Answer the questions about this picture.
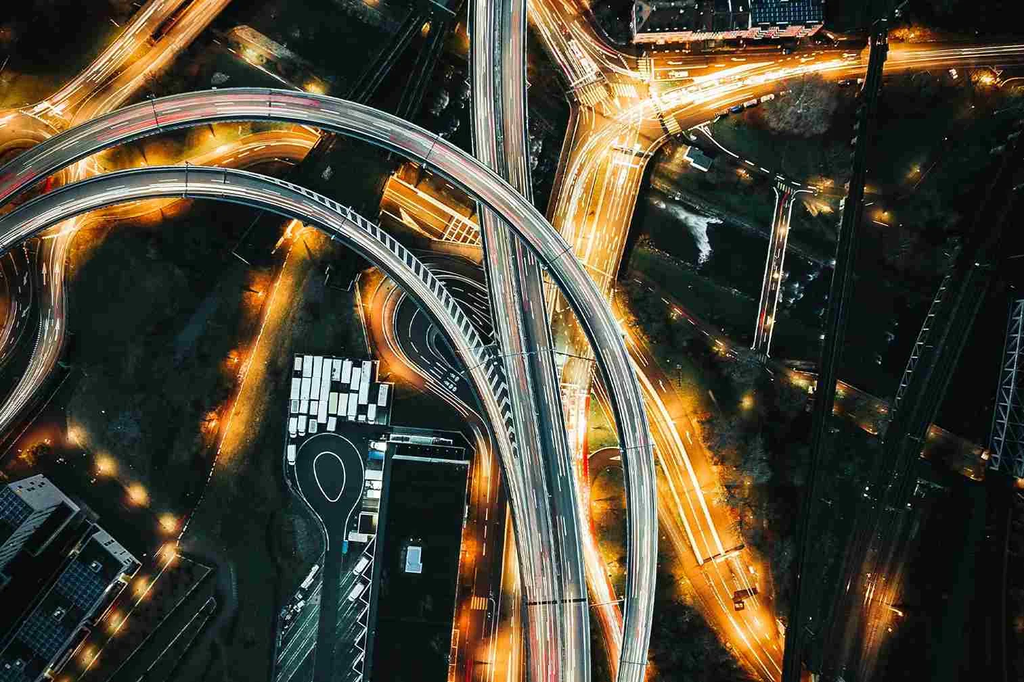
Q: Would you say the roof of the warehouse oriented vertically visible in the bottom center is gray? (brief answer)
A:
No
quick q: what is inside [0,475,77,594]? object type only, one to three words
building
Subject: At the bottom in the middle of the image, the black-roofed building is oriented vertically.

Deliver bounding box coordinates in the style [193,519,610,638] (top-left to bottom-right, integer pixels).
[358,455,470,682]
